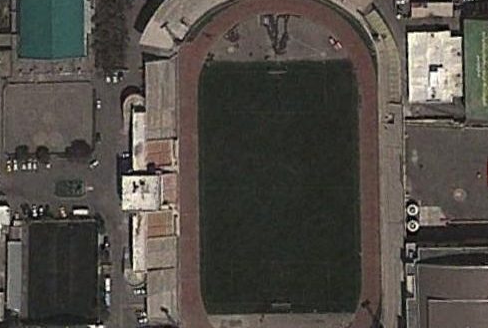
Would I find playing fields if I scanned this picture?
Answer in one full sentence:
Yes, a playing field is visible in the scene.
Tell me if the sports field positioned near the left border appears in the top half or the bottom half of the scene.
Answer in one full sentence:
The sports field positioned near the left border is in the bottom half of the image.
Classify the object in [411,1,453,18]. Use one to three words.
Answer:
building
